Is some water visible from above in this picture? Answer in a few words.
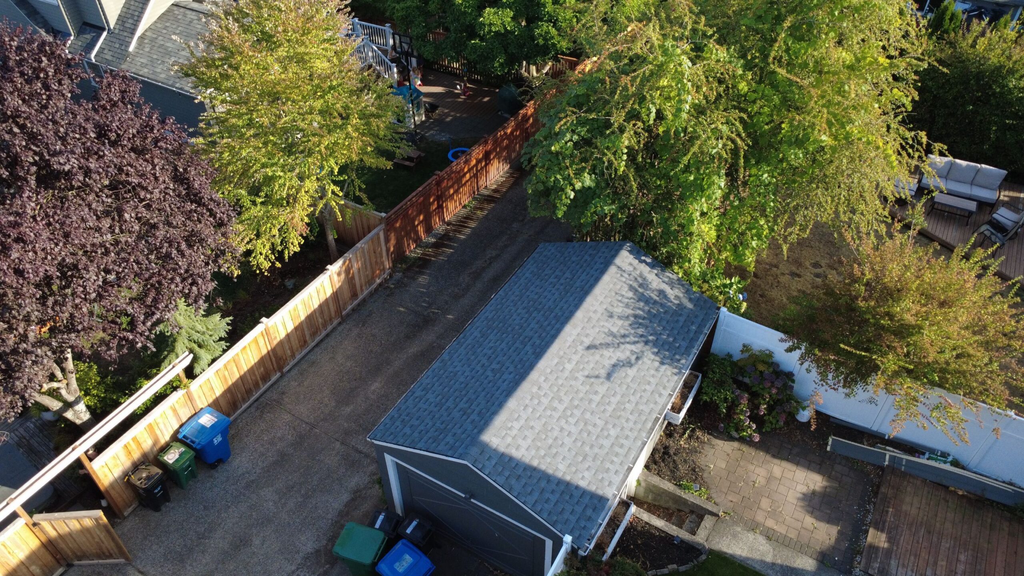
No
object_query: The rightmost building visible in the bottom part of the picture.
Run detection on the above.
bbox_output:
[365,240,720,576]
